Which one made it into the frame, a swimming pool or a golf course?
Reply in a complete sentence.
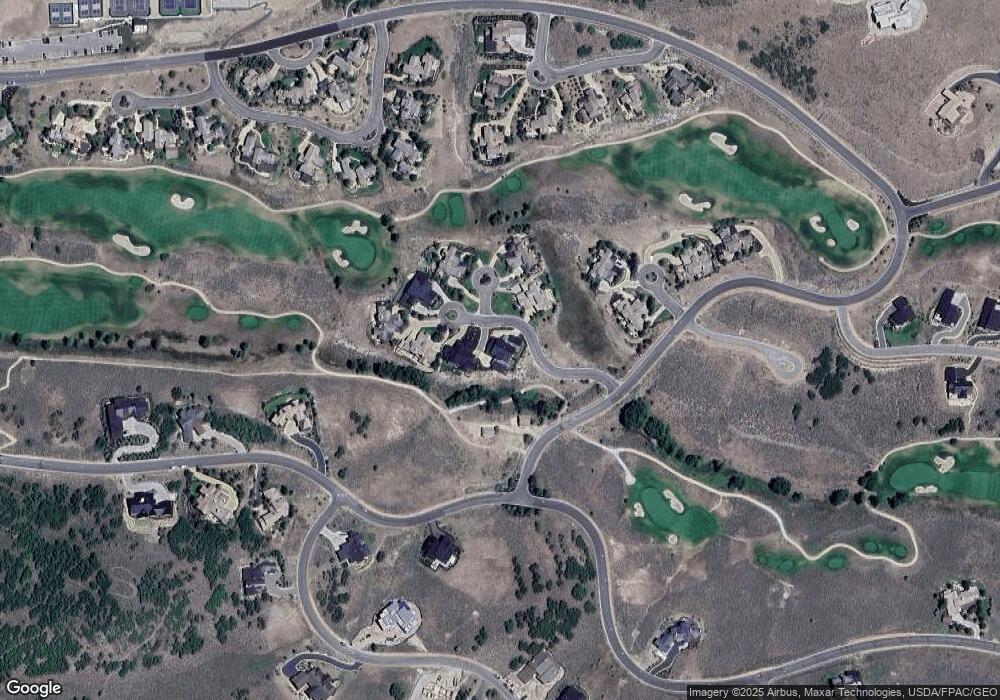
It is a golf course that can be seen here.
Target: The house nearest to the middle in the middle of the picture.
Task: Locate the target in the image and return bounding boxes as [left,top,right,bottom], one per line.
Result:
[485,334,523,372]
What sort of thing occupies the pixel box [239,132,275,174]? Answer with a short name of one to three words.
house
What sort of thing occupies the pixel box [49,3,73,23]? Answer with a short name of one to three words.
sports court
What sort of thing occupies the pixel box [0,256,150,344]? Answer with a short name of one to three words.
golf course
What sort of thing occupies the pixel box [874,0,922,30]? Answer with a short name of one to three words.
house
